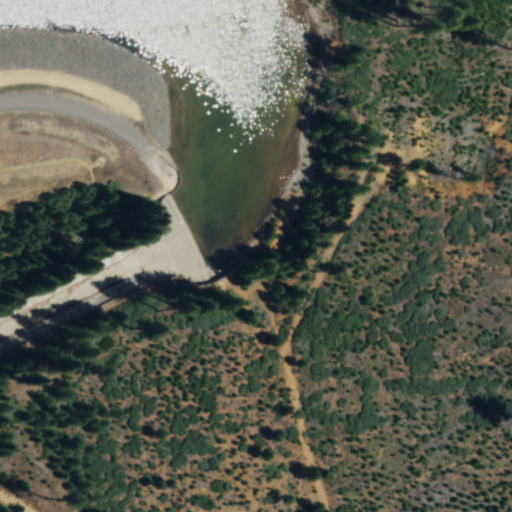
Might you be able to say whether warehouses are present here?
No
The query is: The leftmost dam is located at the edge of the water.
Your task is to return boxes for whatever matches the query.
[0,28,170,211]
